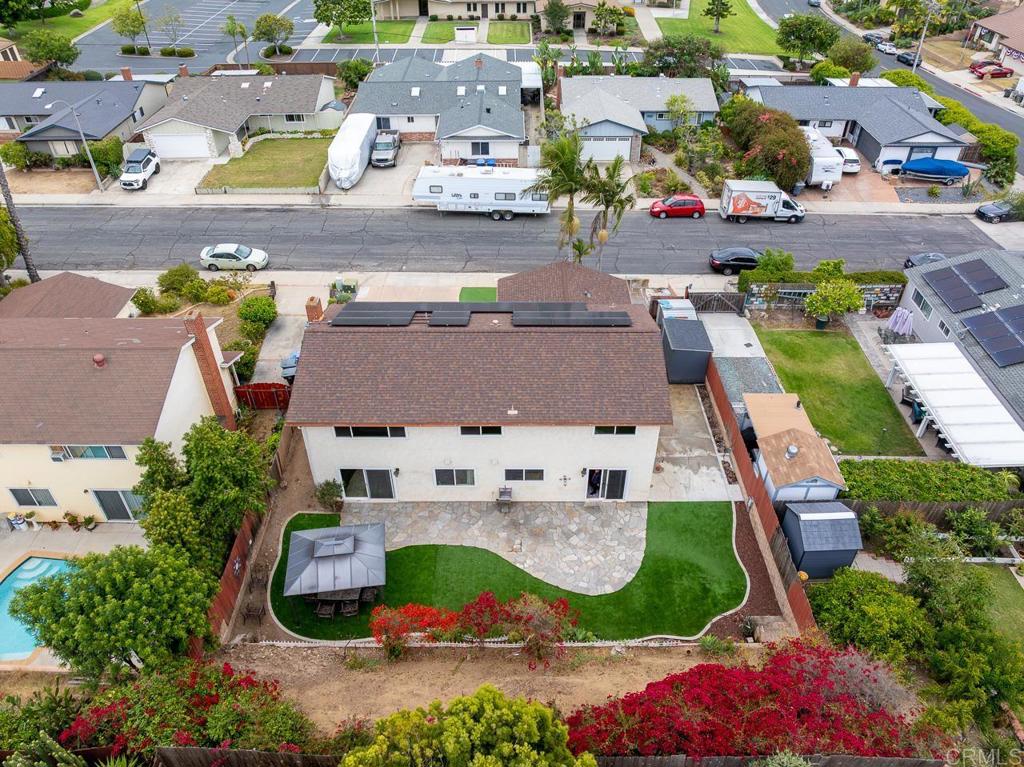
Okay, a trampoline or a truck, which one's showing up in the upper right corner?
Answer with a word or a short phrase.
truck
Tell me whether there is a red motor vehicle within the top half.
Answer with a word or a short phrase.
Yes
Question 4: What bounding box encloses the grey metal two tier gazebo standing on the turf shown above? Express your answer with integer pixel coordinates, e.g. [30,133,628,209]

[284,521,387,628]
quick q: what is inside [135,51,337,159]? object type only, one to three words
house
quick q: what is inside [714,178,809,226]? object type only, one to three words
truck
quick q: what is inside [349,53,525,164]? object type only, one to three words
house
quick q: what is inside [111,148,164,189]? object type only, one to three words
car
